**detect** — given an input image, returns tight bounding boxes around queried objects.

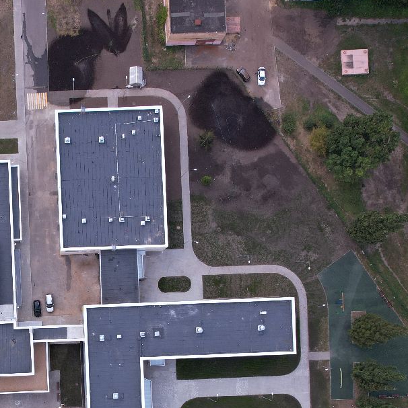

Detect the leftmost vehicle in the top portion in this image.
[235,66,252,84]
